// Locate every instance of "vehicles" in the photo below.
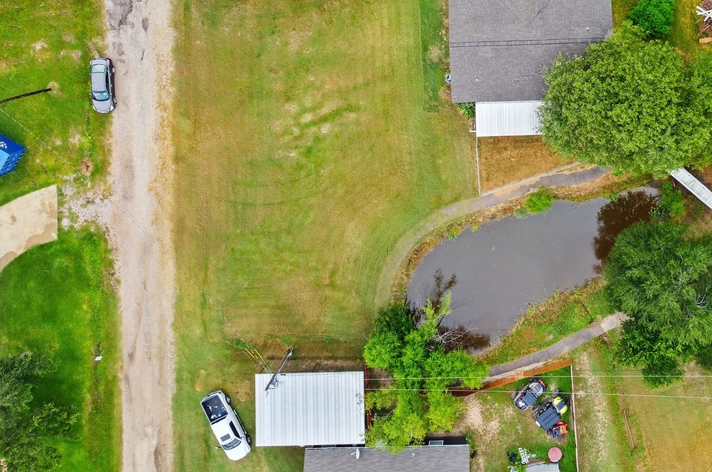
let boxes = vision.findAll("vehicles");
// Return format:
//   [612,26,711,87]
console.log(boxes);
[88,57,118,113]
[534,394,569,430]
[199,393,252,463]
[513,378,546,413]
